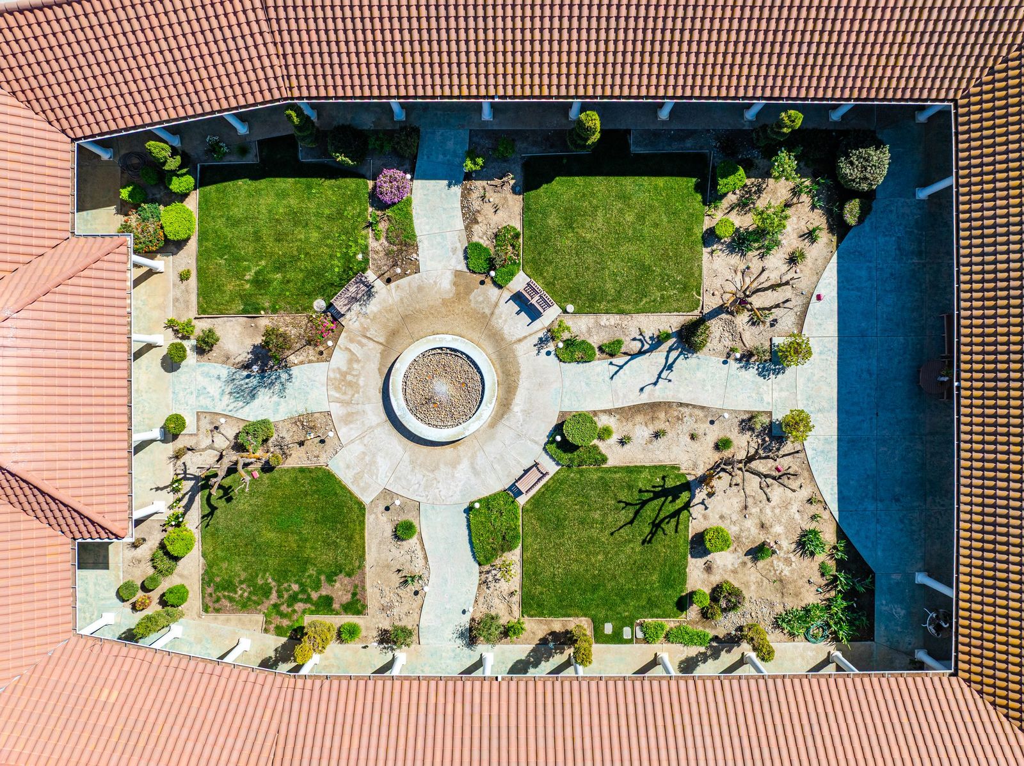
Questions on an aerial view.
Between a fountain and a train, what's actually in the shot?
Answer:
fountain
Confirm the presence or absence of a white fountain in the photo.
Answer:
Yes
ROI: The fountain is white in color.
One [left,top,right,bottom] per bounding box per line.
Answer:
[390,335,497,442]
